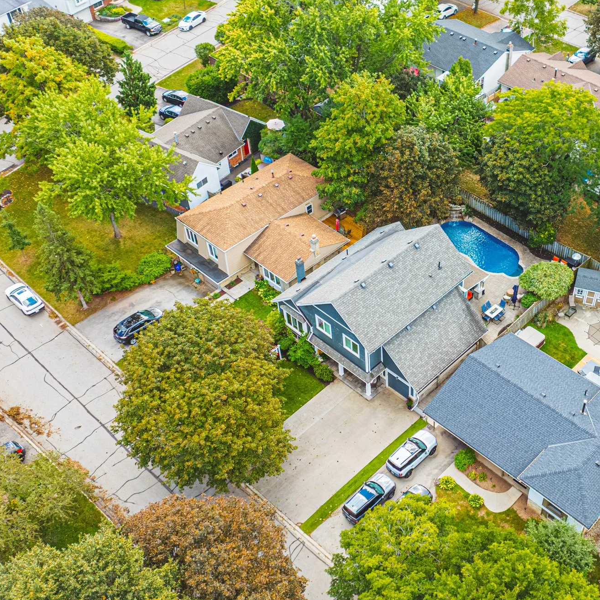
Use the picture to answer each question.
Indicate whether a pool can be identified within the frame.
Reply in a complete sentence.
Yes, a pool can be made out from above.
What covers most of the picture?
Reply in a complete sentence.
For the most part, this view shows trees.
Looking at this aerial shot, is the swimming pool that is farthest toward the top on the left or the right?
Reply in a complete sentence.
It is on the right.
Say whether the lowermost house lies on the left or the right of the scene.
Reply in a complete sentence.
The lowermost house is on the right side of the image.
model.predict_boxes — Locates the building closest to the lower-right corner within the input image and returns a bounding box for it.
[422,332,600,538]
